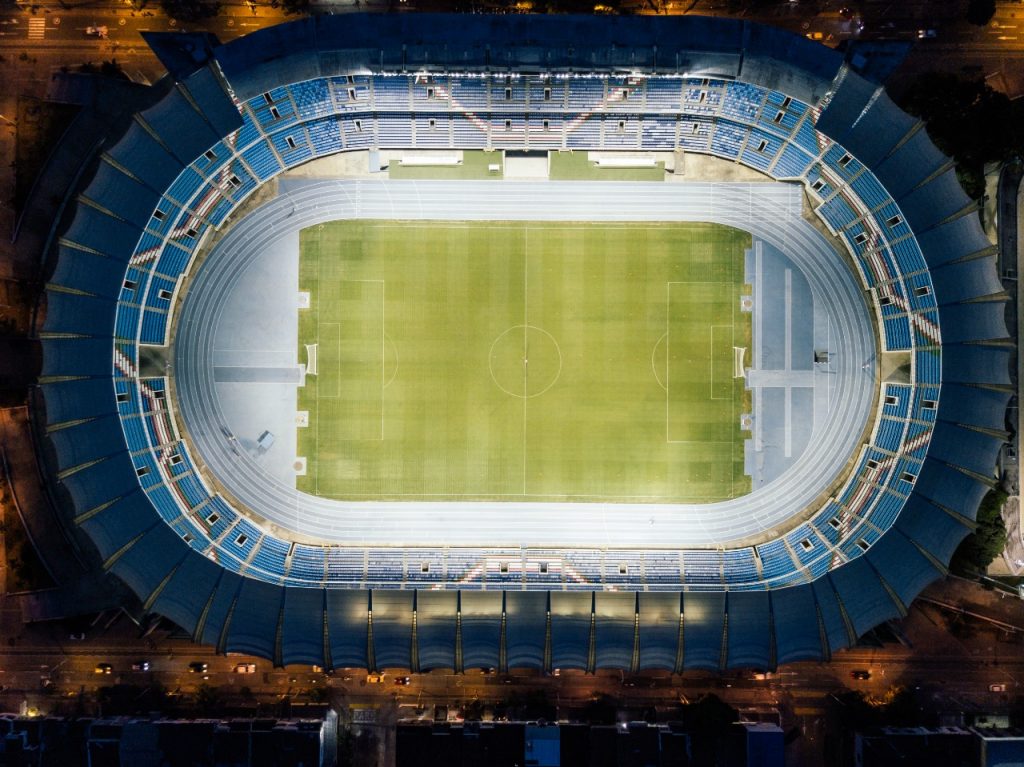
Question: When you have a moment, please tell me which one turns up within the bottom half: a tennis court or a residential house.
residential house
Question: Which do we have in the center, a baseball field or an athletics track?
athletics track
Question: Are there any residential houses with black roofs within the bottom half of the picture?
Yes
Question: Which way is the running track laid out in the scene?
horizontally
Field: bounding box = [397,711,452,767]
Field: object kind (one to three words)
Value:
house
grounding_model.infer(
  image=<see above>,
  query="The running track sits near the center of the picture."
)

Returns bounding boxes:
[174,180,875,543]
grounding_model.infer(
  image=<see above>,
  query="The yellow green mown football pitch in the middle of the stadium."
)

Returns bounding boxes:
[298,219,752,503]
